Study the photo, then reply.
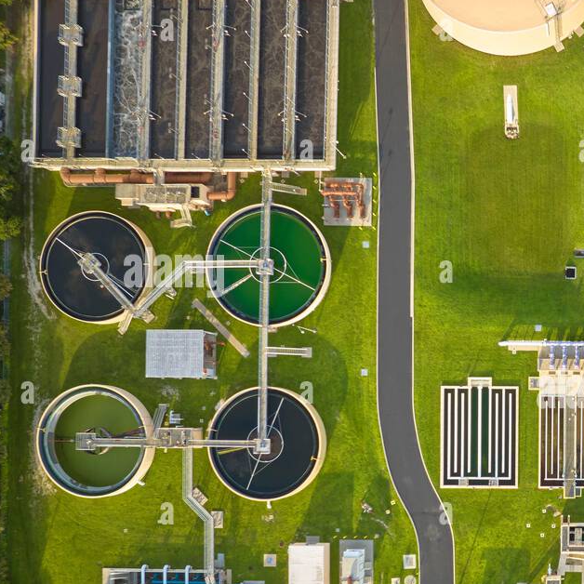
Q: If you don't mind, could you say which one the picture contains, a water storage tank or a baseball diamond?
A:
water storage tank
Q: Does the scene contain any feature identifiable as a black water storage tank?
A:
Yes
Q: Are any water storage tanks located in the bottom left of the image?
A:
Yes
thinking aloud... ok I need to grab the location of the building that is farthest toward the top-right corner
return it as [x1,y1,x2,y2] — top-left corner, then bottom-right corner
[320,172,372,227]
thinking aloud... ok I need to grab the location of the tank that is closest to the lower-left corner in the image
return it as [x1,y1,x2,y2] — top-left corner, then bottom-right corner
[37,383,159,498]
